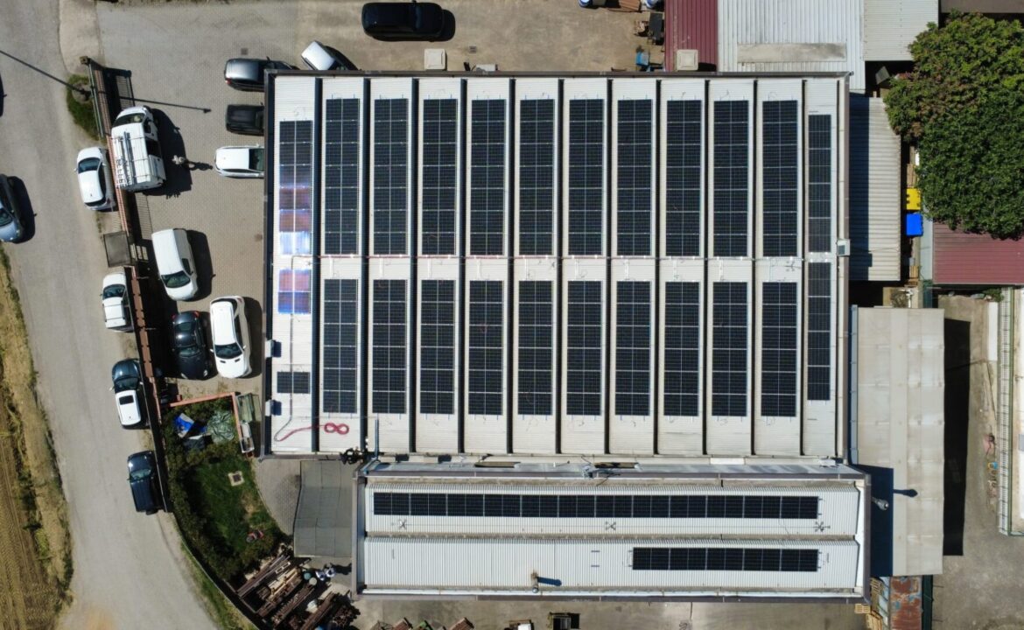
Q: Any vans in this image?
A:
Yes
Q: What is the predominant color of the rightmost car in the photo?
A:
black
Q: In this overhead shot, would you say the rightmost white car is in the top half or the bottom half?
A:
top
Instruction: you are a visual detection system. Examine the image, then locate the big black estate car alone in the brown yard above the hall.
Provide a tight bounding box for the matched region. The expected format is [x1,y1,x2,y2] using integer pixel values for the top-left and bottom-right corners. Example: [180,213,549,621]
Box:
[362,0,445,41]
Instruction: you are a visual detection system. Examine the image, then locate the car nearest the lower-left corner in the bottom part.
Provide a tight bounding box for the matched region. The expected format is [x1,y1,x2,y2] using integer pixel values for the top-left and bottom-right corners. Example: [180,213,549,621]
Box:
[127,447,166,515]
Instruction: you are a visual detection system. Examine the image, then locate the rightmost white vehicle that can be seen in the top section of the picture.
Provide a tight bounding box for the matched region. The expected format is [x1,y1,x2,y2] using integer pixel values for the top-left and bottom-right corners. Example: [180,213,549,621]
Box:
[302,41,356,70]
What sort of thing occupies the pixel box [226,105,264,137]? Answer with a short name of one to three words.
car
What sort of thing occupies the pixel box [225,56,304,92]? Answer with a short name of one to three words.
car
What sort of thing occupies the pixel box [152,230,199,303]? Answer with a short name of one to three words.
van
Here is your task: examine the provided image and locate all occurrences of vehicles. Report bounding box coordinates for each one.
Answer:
[225,56,304,92]
[110,357,150,430]
[212,298,252,379]
[362,0,445,41]
[152,230,199,303]
[127,447,166,515]
[0,171,24,244]
[226,105,264,137]
[302,41,356,70]
[74,146,117,213]
[99,270,132,333]
[114,107,166,195]
[172,309,211,381]
[214,144,264,179]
